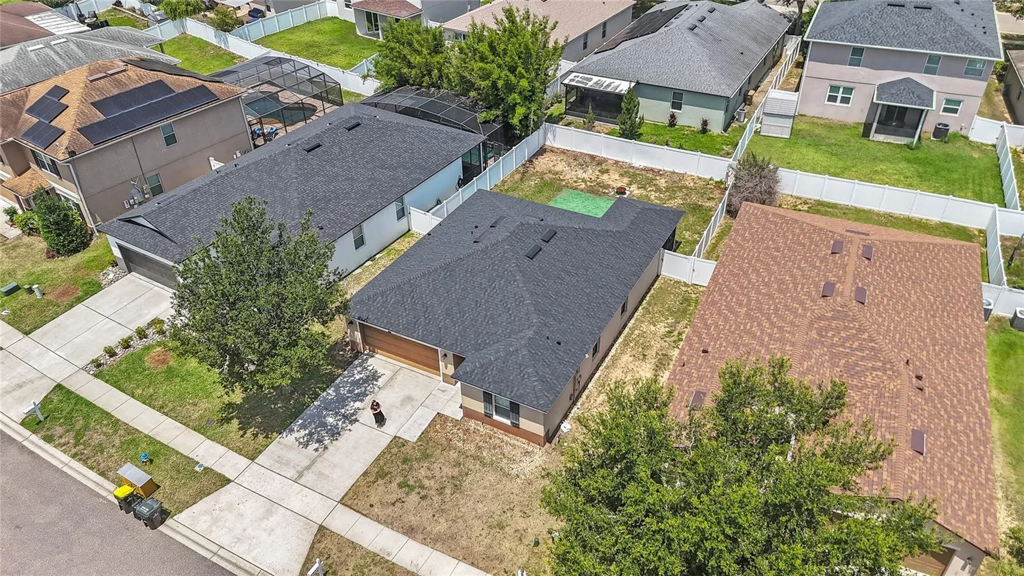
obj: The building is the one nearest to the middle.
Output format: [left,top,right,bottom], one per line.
[334,189,685,447]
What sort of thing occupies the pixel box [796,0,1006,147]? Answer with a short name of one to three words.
house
